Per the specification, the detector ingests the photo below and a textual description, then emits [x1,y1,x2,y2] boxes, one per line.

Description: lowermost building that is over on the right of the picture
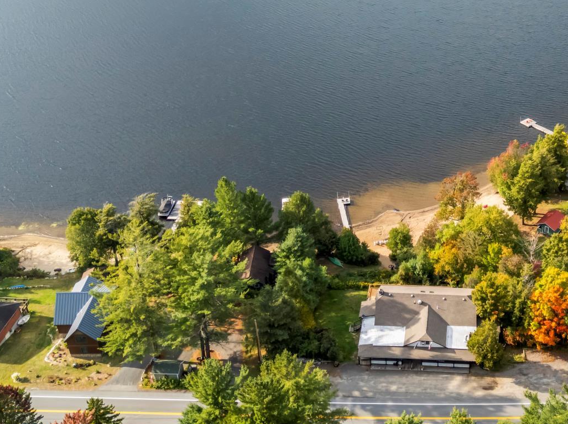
[345,283,477,375]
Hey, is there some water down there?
Yes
